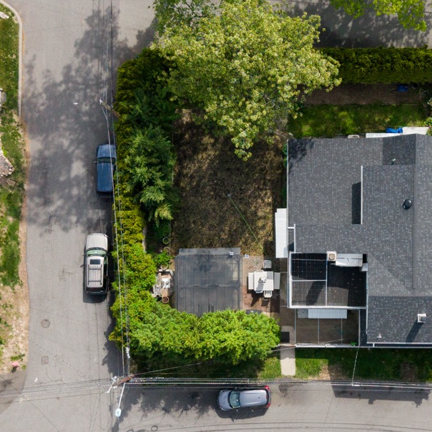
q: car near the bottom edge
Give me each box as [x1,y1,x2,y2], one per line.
[218,384,273,413]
